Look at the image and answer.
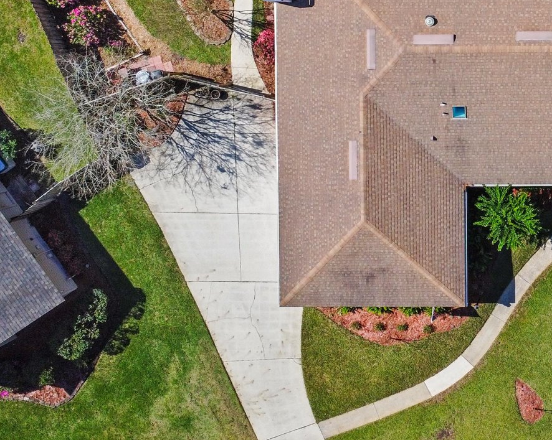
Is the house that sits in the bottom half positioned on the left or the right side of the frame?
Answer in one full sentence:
The house that sits in the bottom half is on the left side of the image.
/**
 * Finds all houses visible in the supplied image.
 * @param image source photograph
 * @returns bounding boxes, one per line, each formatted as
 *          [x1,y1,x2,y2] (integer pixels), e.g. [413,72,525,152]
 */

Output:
[0,186,77,344]
[254,0,552,325]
